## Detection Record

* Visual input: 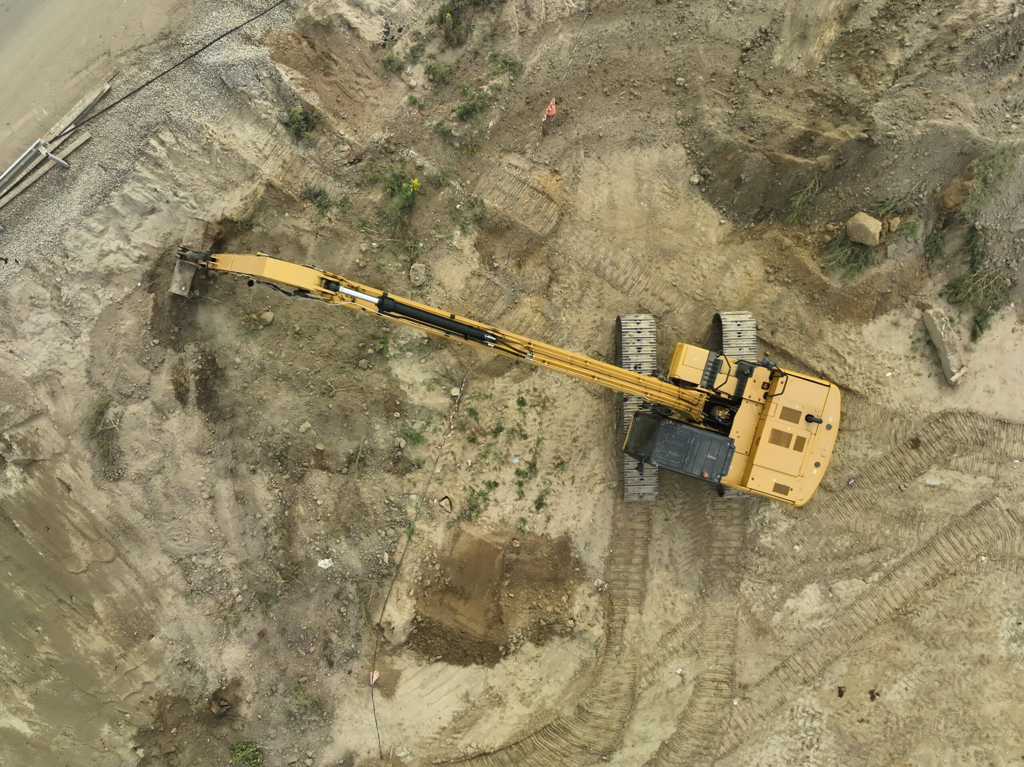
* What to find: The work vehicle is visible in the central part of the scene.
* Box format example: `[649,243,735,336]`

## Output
[166,214,839,506]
